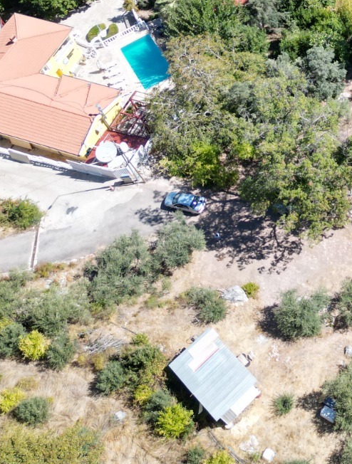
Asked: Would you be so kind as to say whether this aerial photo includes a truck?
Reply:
No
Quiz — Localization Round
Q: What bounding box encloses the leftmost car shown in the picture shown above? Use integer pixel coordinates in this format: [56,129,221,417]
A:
[160,189,206,214]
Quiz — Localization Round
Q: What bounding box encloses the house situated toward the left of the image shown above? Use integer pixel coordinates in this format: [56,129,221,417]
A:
[0,14,121,160]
